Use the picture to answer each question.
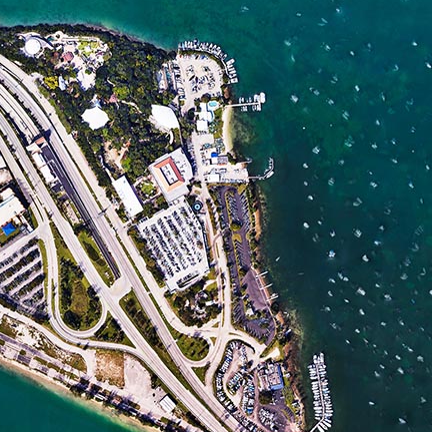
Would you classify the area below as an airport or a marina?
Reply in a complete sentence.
This looks like a marina.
